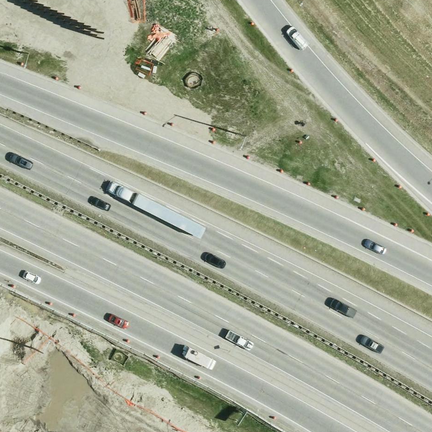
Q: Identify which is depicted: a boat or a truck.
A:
truck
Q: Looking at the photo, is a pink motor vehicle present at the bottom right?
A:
No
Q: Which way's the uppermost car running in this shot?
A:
at an angle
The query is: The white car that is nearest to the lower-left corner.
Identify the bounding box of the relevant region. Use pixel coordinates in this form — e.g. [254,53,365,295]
[22,270,43,285]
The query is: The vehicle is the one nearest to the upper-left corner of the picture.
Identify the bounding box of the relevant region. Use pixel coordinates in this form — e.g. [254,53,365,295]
[9,153,34,170]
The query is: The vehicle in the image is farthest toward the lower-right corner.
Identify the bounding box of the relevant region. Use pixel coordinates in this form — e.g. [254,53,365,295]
[359,336,386,355]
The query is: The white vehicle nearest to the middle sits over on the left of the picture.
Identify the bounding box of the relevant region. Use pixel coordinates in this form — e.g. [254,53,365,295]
[105,182,206,238]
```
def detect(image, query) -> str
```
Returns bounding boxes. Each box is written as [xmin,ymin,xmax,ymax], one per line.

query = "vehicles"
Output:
[108,314,129,329]
[287,28,308,49]
[359,336,386,355]
[9,153,34,170]
[182,345,217,368]
[22,270,43,285]
[364,239,387,256]
[105,182,206,238]
[204,252,227,270]
[227,331,256,352]
[328,298,357,319]
[90,196,112,211]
